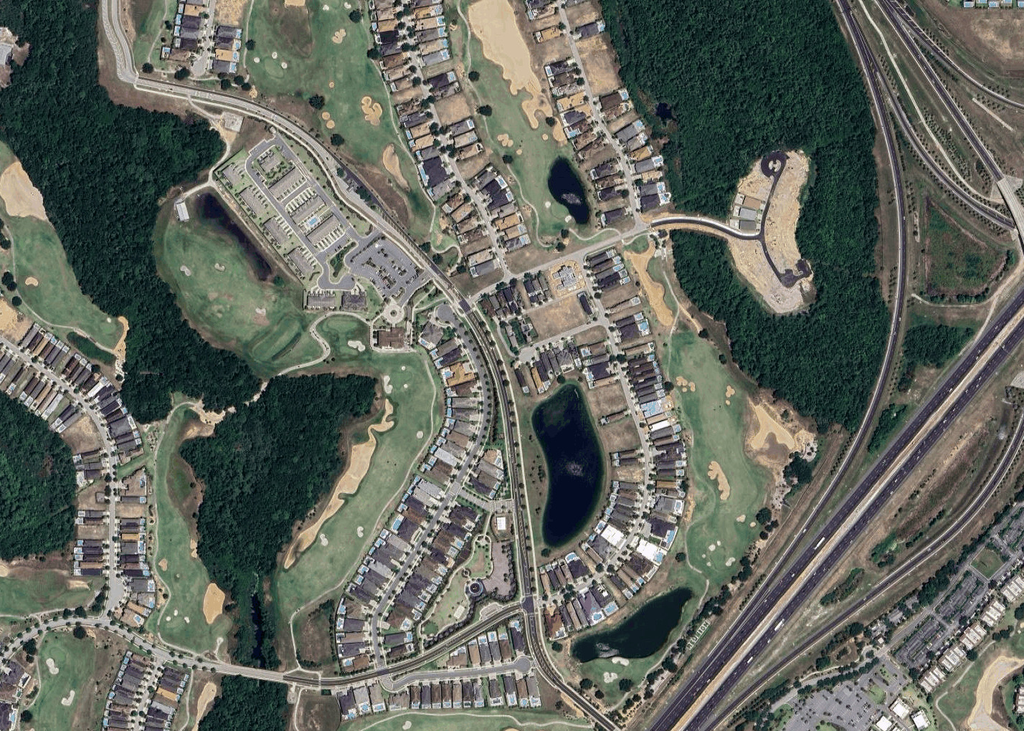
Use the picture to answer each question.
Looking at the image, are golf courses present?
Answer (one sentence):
Yes, a golf course appears in the view.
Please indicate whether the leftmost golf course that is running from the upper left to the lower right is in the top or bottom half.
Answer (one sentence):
The top half of the photo is where the leftmost golf course that is running from the upper left to the lower right is.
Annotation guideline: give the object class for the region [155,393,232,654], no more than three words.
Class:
golf course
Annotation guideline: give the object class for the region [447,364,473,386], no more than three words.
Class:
house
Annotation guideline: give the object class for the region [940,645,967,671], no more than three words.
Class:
building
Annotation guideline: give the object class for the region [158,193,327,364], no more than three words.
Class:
golf course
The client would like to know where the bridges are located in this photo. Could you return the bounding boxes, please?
[997,175,1024,256]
